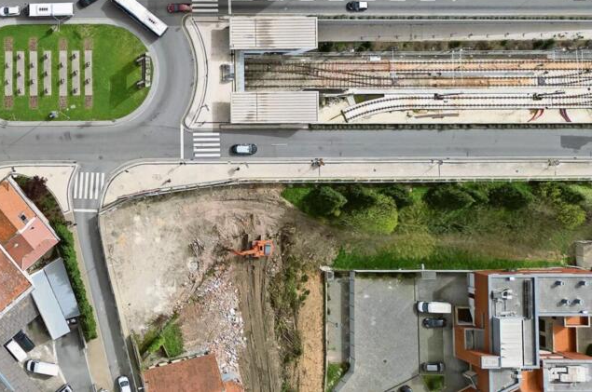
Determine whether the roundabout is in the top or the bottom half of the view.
top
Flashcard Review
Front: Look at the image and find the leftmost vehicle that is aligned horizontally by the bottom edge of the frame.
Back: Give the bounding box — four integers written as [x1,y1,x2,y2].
[25,359,59,378]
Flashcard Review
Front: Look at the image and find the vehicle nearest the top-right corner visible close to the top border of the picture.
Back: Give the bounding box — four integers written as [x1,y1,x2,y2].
[345,0,368,12]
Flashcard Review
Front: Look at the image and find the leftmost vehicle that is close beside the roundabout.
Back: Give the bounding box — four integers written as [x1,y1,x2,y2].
[0,4,20,16]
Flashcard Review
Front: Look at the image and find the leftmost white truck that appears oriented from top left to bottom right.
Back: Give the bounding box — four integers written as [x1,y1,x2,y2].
[4,333,31,366]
